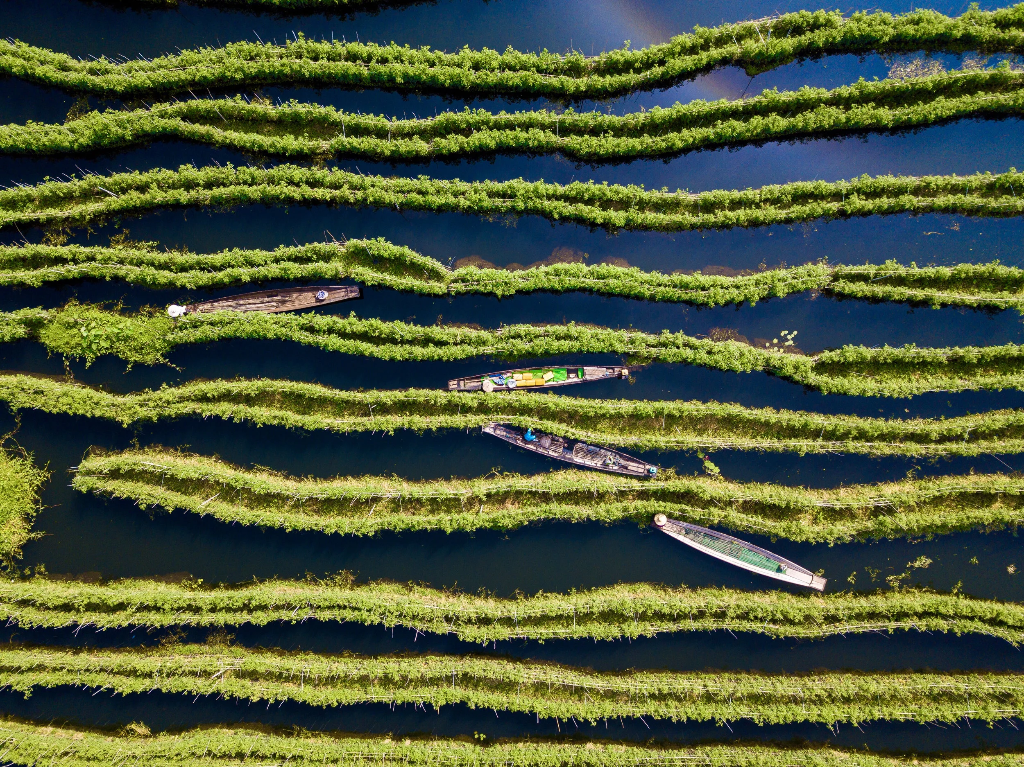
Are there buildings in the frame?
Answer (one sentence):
No, there is no building in the image.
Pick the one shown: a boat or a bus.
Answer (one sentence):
Of the two, only a boat appears.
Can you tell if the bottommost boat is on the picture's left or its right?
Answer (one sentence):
The bottommost boat appears in the right half of the scene.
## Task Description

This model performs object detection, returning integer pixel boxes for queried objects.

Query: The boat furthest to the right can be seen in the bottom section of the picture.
[655,519,830,593]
